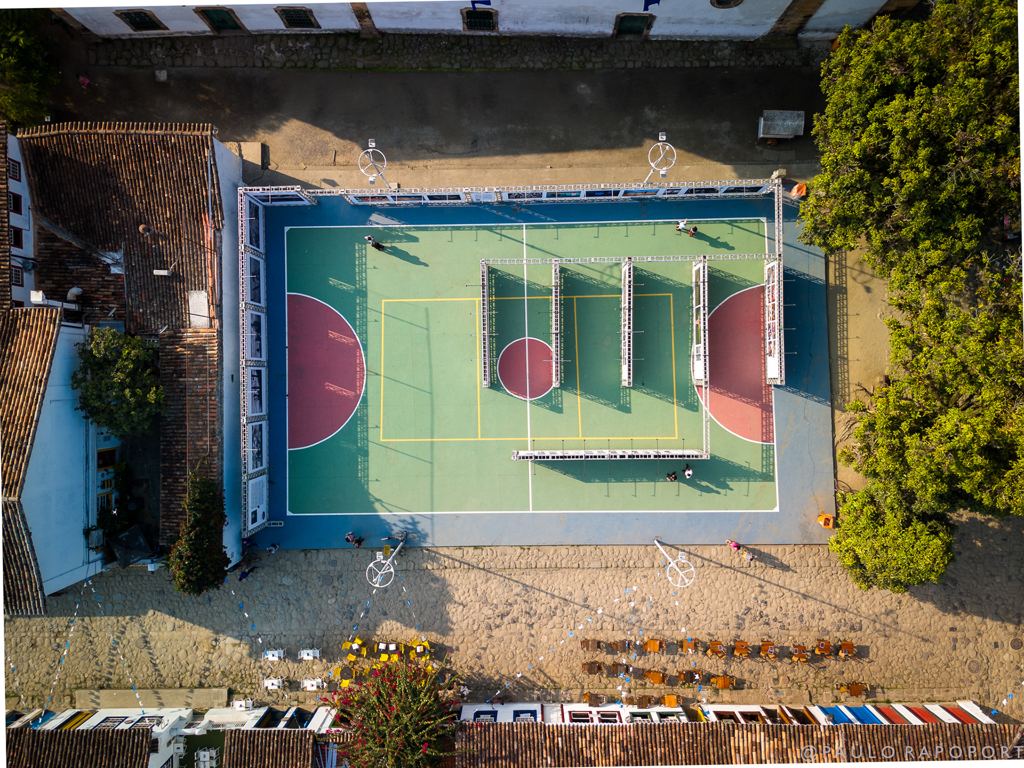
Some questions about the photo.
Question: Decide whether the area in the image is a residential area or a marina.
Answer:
residential area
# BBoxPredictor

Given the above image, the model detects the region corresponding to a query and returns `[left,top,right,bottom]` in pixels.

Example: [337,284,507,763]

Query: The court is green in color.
[240,185,835,550]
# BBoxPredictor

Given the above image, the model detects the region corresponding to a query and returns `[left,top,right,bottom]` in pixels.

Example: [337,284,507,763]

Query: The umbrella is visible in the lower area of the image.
[109,524,155,569]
